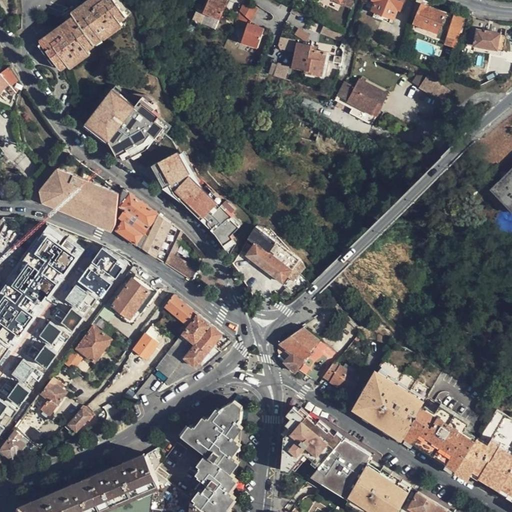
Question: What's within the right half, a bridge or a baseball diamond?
bridge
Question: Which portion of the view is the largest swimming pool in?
top right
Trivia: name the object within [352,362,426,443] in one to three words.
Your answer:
building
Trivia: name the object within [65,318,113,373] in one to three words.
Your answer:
house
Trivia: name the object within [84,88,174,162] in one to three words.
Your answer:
building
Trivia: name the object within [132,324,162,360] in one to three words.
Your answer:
house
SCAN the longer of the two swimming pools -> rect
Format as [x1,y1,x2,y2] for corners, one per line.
[414,36,442,58]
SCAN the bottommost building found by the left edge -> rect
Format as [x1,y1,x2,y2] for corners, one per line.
[14,448,175,512]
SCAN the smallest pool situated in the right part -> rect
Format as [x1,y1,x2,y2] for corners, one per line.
[473,53,486,69]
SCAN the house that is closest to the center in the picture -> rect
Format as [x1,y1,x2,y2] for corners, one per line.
[232,225,306,286]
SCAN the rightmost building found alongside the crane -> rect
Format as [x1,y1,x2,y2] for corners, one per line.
[151,151,244,254]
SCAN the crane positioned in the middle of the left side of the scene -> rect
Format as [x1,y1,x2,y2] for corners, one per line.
[0,175,95,264]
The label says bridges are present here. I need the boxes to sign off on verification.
[304,138,471,297]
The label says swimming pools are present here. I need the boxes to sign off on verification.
[414,36,442,58]
[473,53,486,69]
